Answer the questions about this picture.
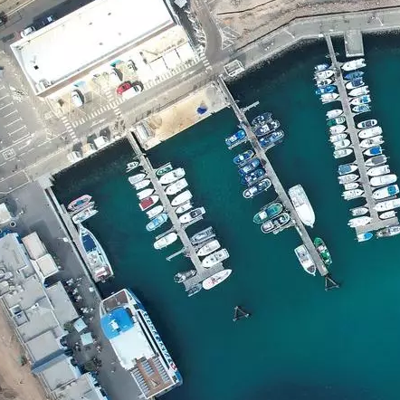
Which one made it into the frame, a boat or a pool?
boat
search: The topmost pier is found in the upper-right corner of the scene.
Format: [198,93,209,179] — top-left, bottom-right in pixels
[345,29,364,57]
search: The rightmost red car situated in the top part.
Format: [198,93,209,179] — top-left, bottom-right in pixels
[116,82,133,94]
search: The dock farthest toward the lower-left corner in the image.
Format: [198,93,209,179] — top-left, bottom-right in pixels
[49,188,95,249]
